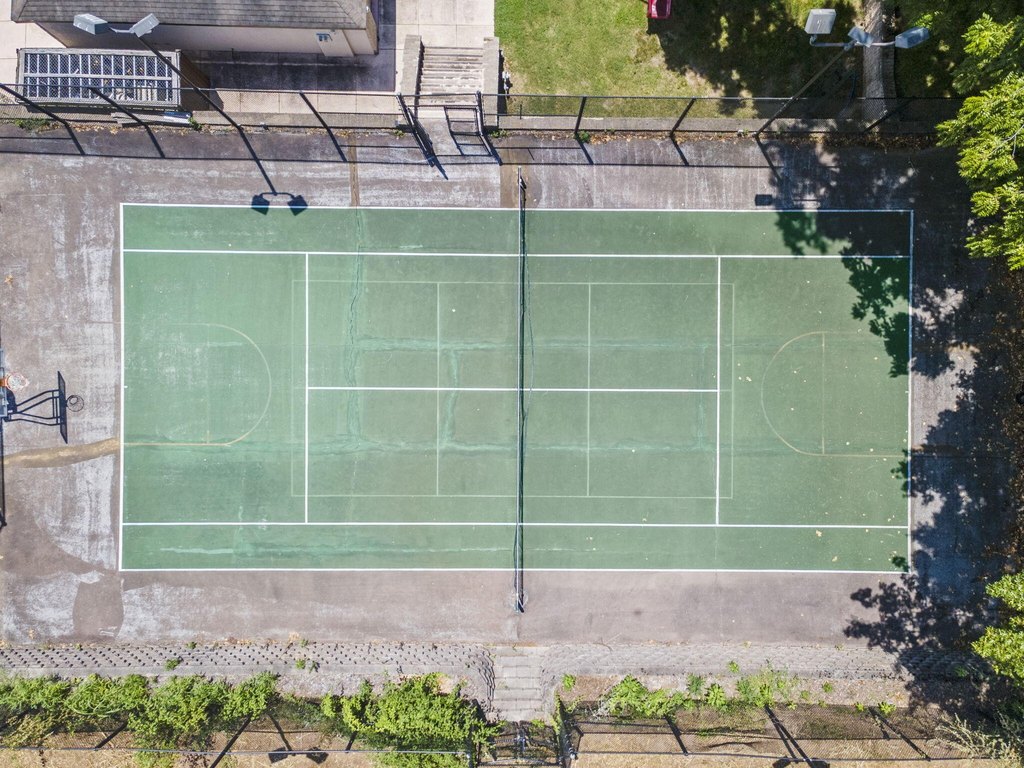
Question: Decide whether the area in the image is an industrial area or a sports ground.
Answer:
sports ground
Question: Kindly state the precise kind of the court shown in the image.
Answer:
tennis court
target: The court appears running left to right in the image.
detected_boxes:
[119,202,913,574]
